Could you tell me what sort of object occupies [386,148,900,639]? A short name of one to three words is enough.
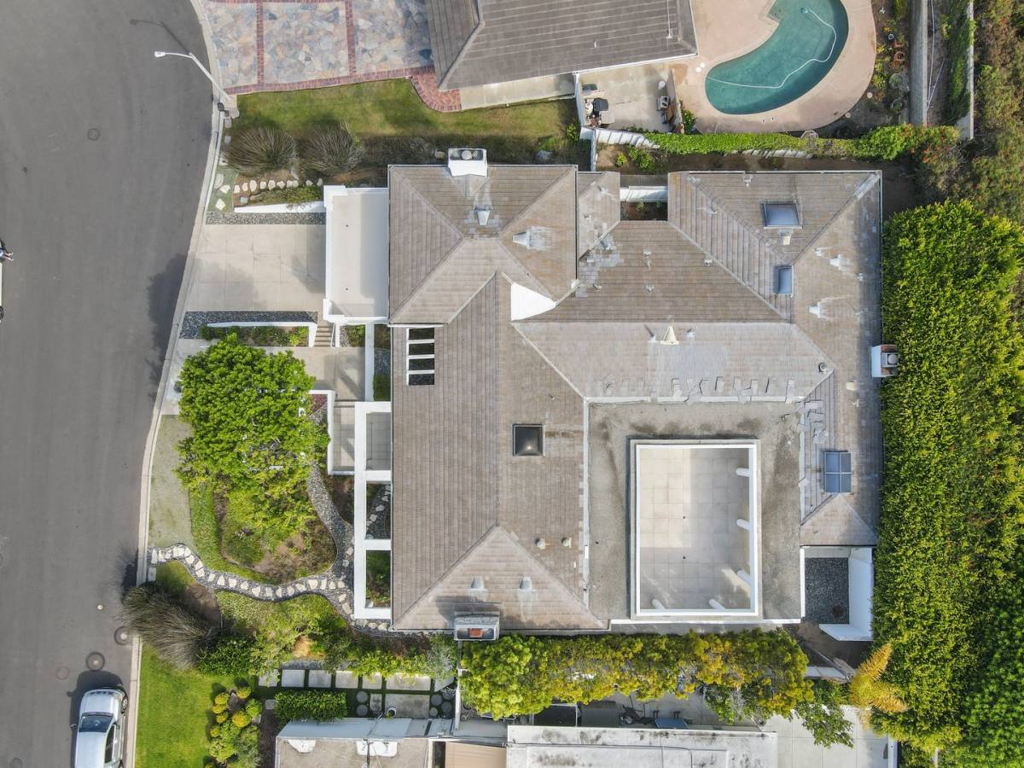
house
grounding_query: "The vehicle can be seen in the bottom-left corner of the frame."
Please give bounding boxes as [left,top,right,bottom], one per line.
[82,690,134,768]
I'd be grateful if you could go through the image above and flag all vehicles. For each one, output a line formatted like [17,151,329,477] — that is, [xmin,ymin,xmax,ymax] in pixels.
[82,690,134,768]
[0,244,8,328]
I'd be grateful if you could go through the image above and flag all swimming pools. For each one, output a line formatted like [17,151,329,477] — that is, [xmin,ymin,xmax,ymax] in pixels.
[699,0,856,121]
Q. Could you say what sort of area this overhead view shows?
residential area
